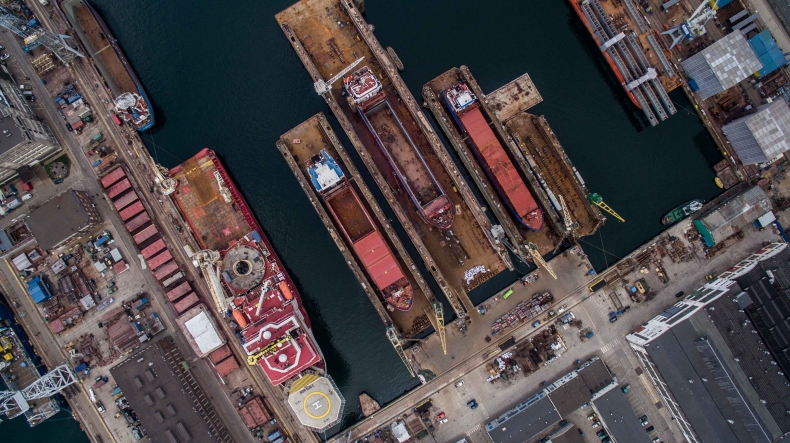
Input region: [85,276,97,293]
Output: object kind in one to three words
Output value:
vehicle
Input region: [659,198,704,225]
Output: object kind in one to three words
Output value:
boat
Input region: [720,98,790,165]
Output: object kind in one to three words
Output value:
shed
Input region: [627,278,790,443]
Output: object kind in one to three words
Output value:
building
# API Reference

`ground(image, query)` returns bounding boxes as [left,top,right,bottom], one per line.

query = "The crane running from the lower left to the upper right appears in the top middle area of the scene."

[309,56,366,100]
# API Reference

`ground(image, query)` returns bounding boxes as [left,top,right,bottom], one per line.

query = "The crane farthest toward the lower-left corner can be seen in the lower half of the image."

[0,364,79,420]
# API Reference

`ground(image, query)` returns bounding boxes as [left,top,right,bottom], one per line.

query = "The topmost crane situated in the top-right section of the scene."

[659,0,718,51]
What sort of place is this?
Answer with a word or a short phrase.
port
